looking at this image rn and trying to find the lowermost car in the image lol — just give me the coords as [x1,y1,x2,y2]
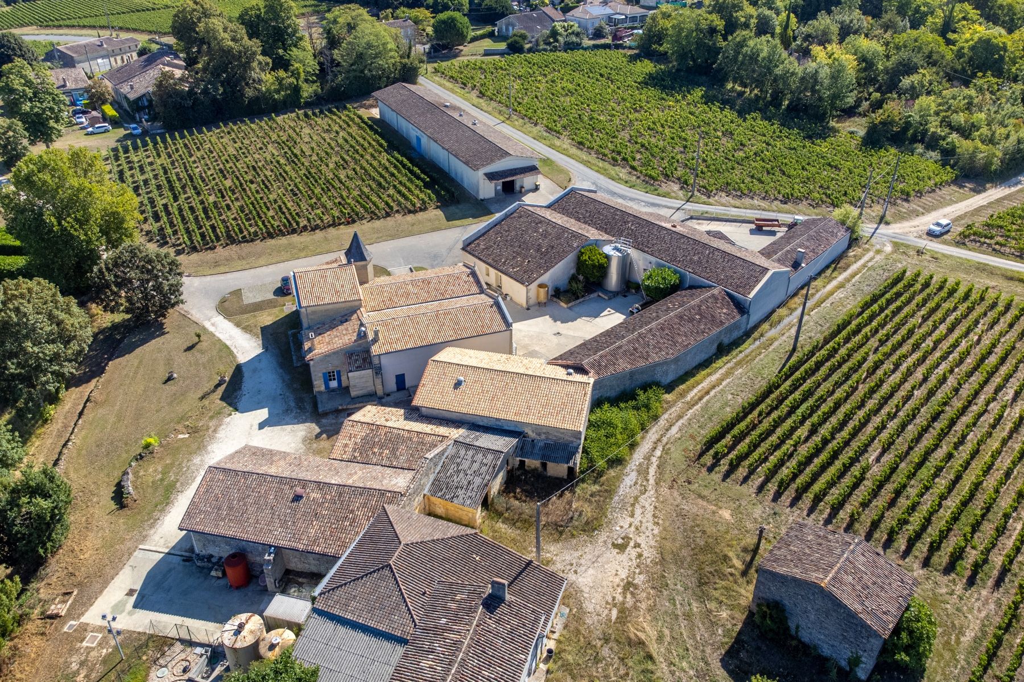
[278,273,293,292]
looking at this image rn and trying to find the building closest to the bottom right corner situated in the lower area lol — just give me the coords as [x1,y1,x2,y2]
[751,521,918,679]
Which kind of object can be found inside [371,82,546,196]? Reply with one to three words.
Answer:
building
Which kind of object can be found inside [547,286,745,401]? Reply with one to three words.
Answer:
shed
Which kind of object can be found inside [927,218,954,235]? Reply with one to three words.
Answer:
car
